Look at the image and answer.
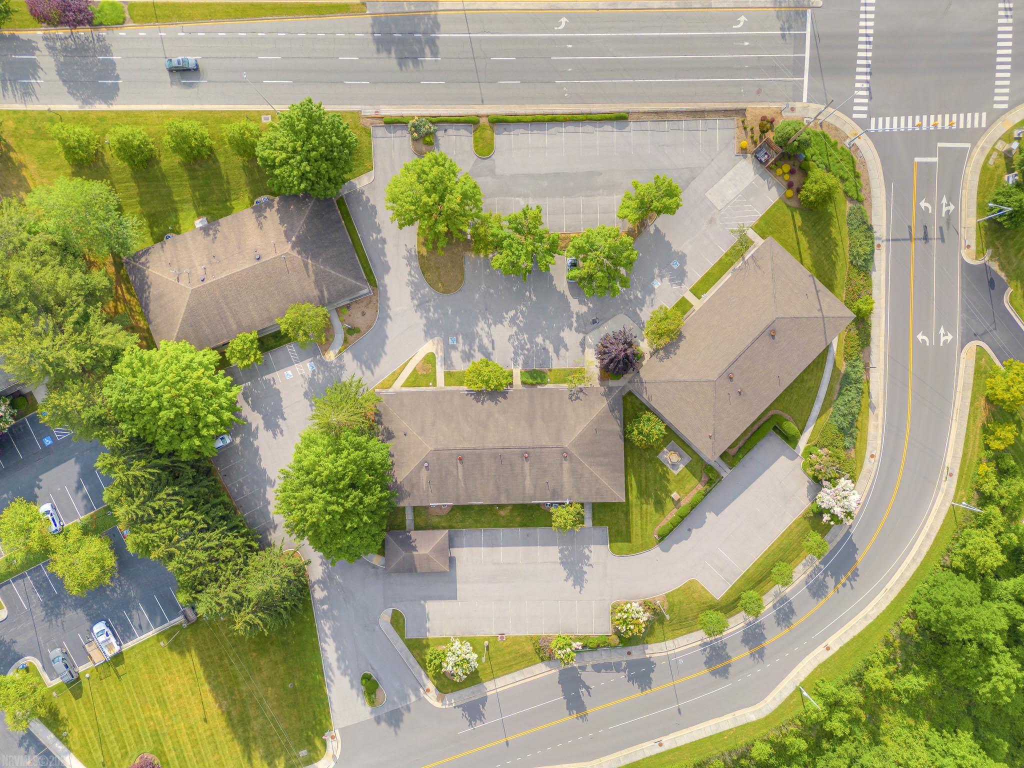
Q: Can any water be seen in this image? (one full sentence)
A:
No, no water is visible.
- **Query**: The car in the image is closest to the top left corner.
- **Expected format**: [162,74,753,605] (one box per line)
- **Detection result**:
[166,57,200,73]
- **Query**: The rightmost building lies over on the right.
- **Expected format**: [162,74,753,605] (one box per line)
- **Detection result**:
[626,236,856,462]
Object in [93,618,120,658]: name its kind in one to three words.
truck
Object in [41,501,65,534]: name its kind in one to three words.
car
